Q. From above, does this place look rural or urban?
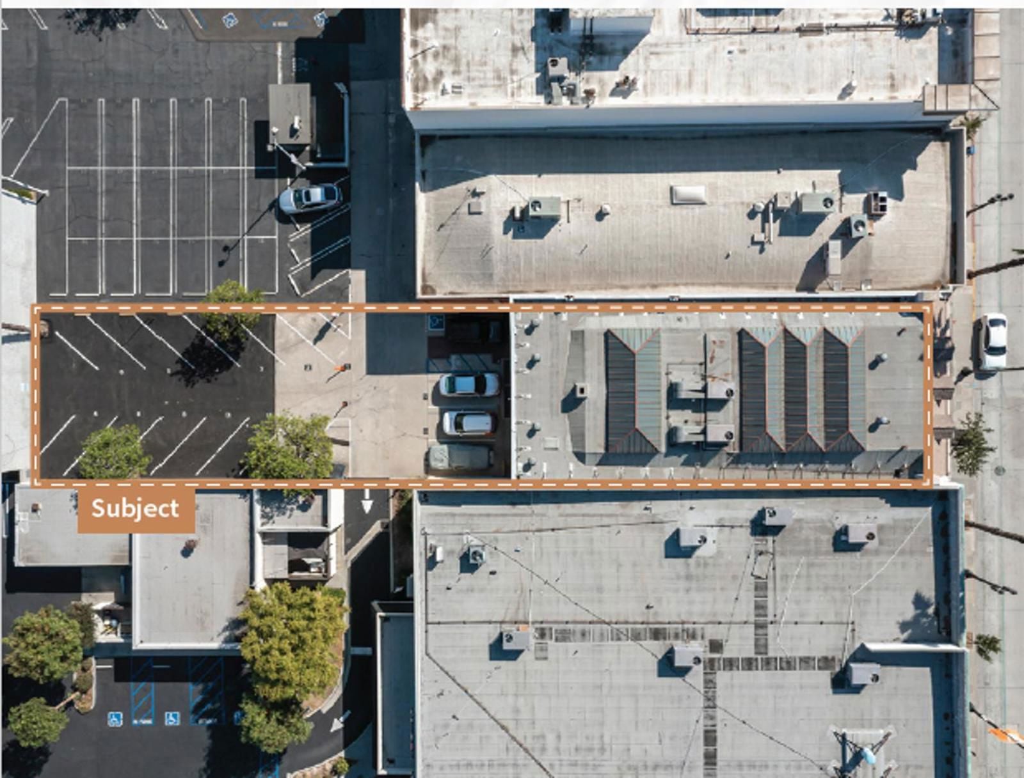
urban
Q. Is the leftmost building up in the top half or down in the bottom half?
bottom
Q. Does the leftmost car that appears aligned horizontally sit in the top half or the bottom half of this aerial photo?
top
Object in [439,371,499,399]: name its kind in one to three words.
car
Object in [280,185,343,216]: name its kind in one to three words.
car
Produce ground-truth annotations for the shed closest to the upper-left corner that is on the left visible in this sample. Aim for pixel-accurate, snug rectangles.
[268,83,322,155]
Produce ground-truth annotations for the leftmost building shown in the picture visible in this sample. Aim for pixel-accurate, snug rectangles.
[13,482,148,567]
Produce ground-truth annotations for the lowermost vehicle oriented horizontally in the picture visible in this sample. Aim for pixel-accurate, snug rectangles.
[429,444,492,473]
